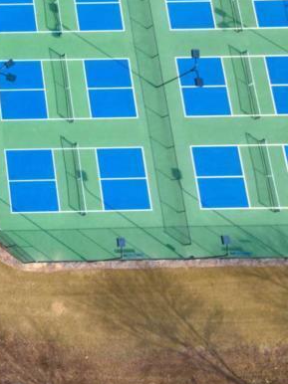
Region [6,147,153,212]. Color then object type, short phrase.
blue sports court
